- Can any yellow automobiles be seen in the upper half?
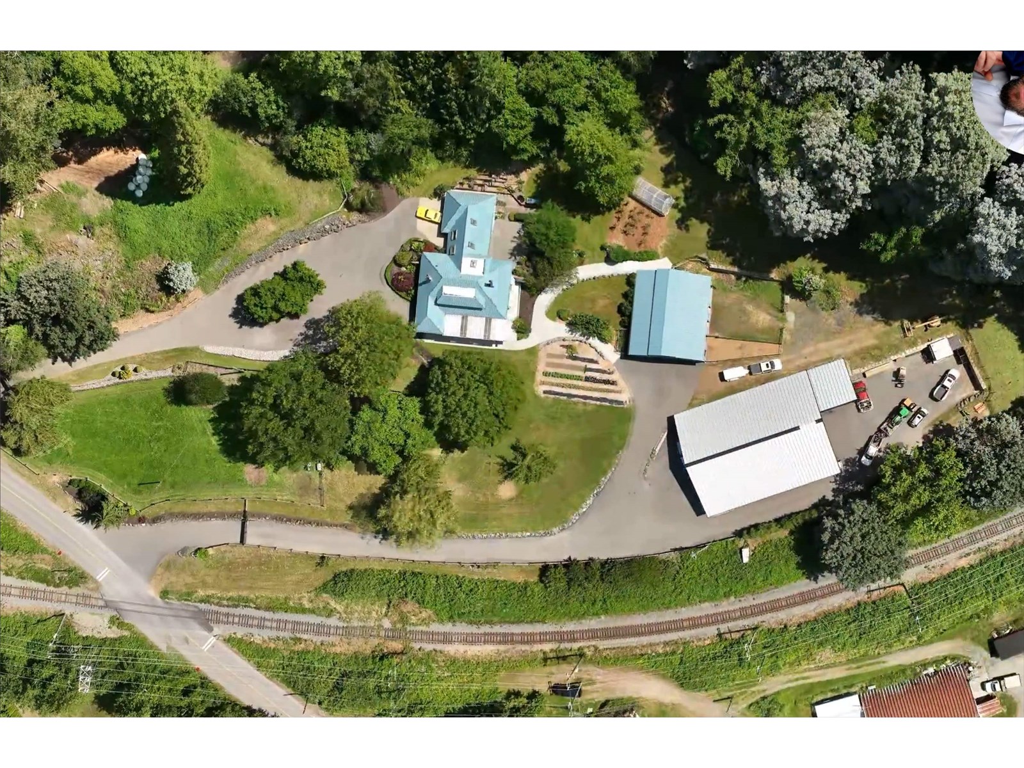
Yes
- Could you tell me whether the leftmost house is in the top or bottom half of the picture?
top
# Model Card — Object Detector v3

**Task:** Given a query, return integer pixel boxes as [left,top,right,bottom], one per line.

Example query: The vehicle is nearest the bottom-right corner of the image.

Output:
[981,679,1006,696]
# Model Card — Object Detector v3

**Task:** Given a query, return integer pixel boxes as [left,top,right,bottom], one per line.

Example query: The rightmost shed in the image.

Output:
[988,623,1024,659]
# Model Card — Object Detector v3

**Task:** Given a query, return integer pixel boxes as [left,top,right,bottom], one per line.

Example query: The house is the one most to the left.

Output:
[416,190,514,345]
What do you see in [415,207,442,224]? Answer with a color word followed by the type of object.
yellow car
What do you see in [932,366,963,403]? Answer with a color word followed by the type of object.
white truck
